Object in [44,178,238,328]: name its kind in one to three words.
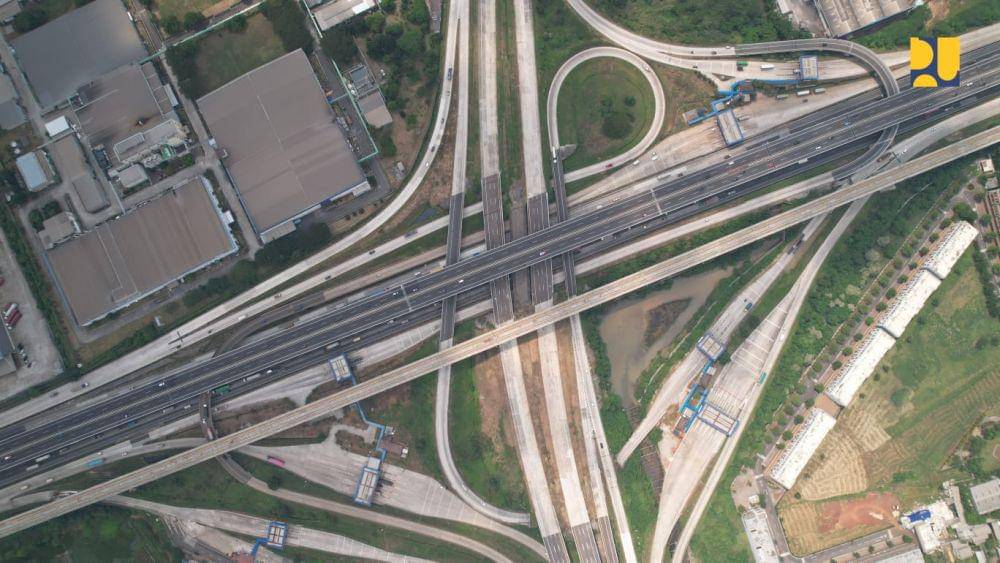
building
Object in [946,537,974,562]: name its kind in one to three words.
house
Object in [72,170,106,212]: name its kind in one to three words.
building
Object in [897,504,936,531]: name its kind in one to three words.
house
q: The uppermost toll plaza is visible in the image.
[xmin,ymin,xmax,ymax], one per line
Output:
[652,54,848,91]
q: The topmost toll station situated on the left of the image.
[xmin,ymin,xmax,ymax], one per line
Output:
[275,322,432,404]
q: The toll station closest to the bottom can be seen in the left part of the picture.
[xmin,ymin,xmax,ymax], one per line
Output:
[194,509,429,563]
